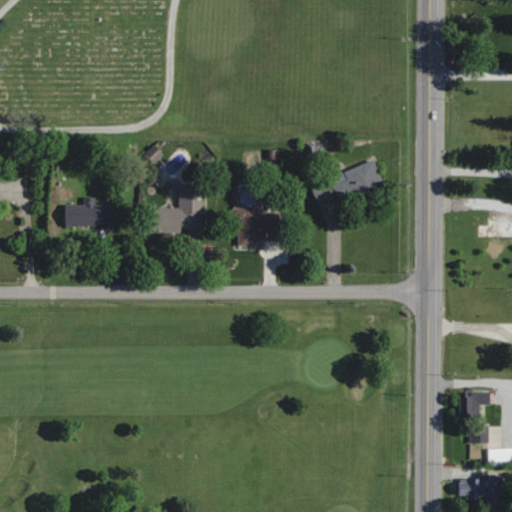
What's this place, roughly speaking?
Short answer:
golf course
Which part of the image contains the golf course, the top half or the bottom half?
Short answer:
bottom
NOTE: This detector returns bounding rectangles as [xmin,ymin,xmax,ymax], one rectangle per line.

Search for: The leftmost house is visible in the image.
[64,198,96,228]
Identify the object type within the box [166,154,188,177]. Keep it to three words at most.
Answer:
swimming pool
